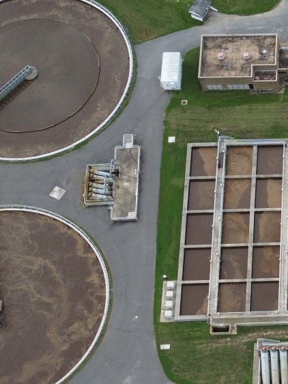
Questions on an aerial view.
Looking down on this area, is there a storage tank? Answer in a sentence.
Yes, the frame does contain a storage tank.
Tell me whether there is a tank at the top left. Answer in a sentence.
Yes, a tank appears at the top left.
